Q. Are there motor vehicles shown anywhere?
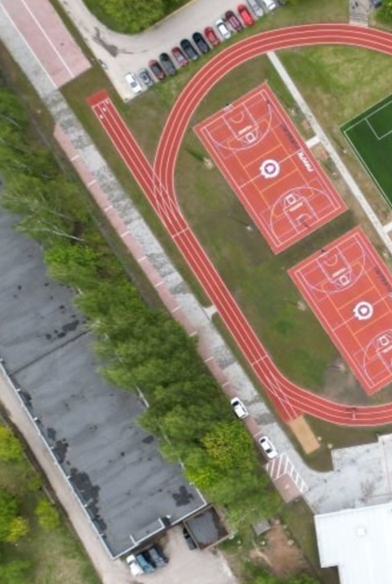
Yes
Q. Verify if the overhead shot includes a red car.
Yes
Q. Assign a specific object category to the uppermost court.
basketball court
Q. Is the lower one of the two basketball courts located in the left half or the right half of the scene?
right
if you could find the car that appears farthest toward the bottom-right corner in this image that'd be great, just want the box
[259,435,277,459]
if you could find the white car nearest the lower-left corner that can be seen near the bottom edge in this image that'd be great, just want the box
[125,552,145,576]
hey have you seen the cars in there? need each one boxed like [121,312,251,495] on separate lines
[224,9,244,32]
[124,72,143,94]
[125,552,145,576]
[191,32,212,53]
[172,46,189,67]
[247,0,265,19]
[204,26,222,46]
[238,3,256,26]
[181,529,198,550]
[148,546,168,569]
[180,38,201,61]
[135,551,157,575]
[159,52,178,74]
[232,398,248,418]
[259,435,277,459]
[149,60,167,79]
[139,68,154,87]
[215,18,232,38]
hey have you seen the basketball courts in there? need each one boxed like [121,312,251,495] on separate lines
[193,82,348,255]
[288,225,392,397]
